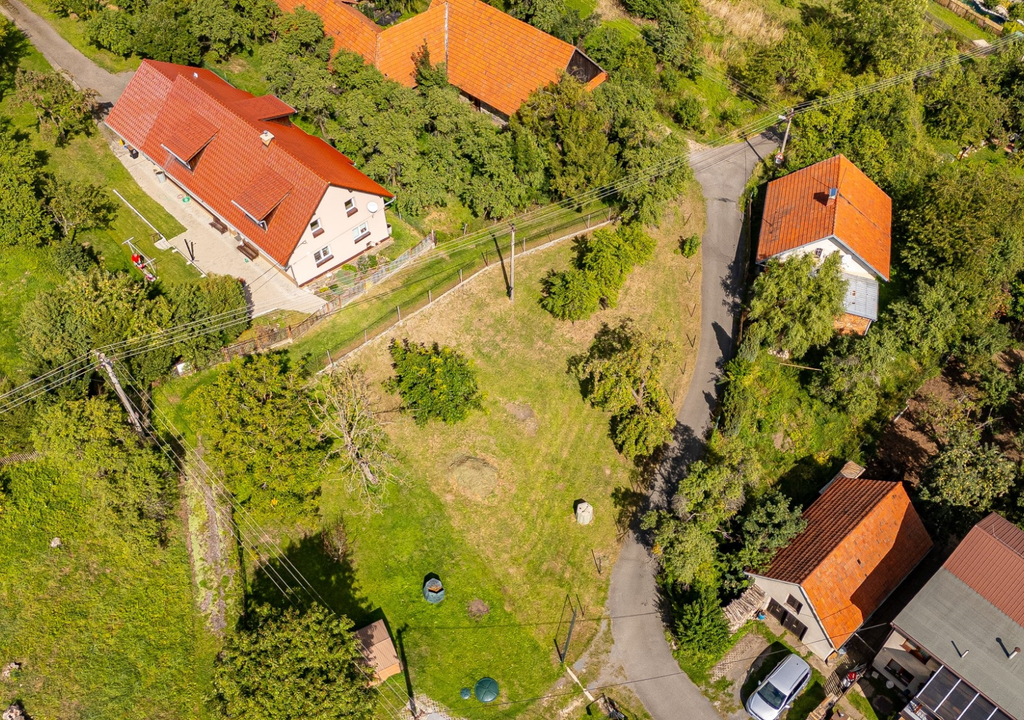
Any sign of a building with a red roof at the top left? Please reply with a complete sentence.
Yes, at the top left there is a building with a red roof.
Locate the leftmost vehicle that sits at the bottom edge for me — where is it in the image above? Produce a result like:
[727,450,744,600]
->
[744,651,813,720]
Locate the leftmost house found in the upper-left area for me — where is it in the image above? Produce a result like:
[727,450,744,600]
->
[104,59,399,289]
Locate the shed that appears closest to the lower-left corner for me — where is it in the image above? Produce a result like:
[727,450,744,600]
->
[355,619,401,685]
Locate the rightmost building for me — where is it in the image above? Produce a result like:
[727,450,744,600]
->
[876,511,1024,720]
